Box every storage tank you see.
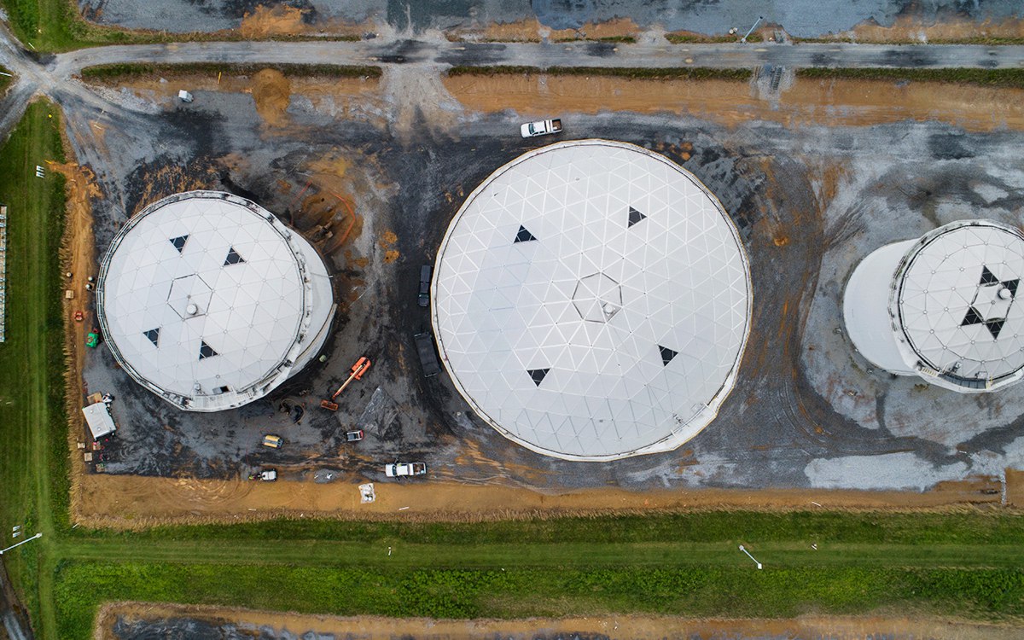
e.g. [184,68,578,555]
[430,138,755,462]
[93,190,337,413]
[840,217,1024,392]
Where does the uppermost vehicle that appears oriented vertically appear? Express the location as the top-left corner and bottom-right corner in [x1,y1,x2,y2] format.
[415,264,433,308]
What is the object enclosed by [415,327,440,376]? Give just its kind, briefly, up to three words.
trailer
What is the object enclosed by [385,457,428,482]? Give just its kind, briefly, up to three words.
truck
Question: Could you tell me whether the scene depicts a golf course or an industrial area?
industrial area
